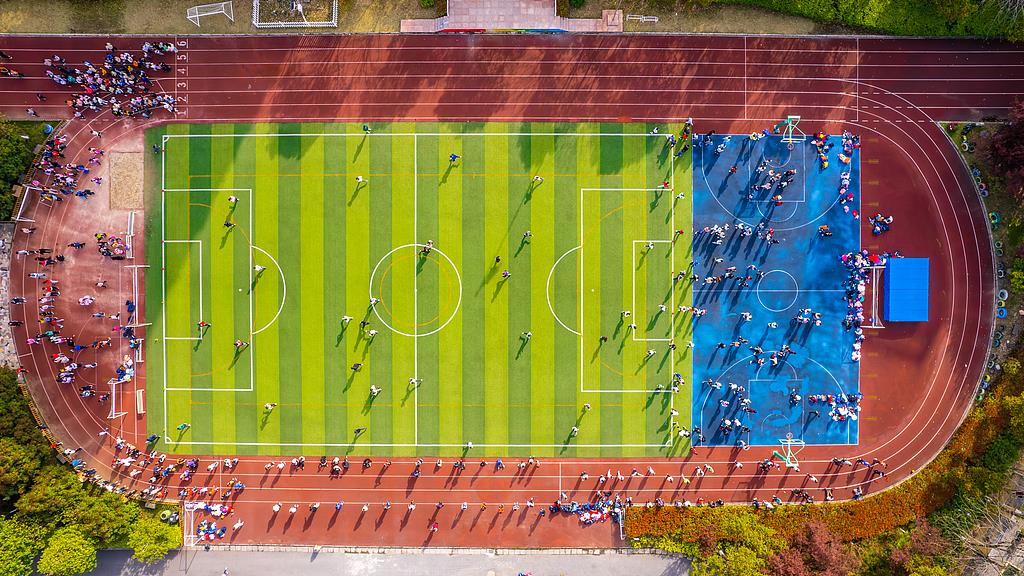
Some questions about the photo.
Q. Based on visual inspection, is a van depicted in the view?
No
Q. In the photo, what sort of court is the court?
basketball court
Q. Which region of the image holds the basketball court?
right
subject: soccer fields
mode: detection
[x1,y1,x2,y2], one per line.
[145,123,693,457]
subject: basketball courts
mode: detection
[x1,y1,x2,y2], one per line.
[693,134,860,446]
